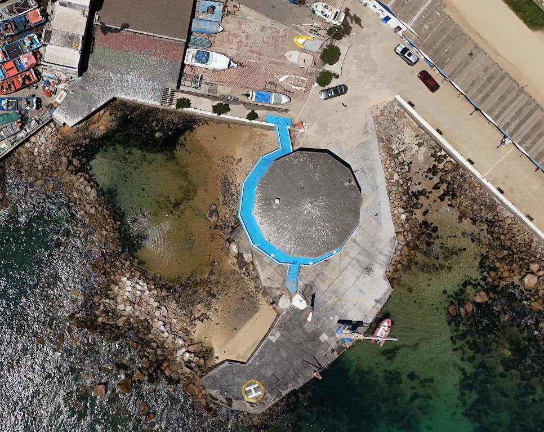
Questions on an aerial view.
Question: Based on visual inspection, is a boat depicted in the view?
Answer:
Yes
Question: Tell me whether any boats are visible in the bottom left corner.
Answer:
No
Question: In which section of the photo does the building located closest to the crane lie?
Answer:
center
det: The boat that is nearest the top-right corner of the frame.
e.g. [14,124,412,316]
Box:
[313,1,345,26]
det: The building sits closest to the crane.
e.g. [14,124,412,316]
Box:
[239,115,361,292]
